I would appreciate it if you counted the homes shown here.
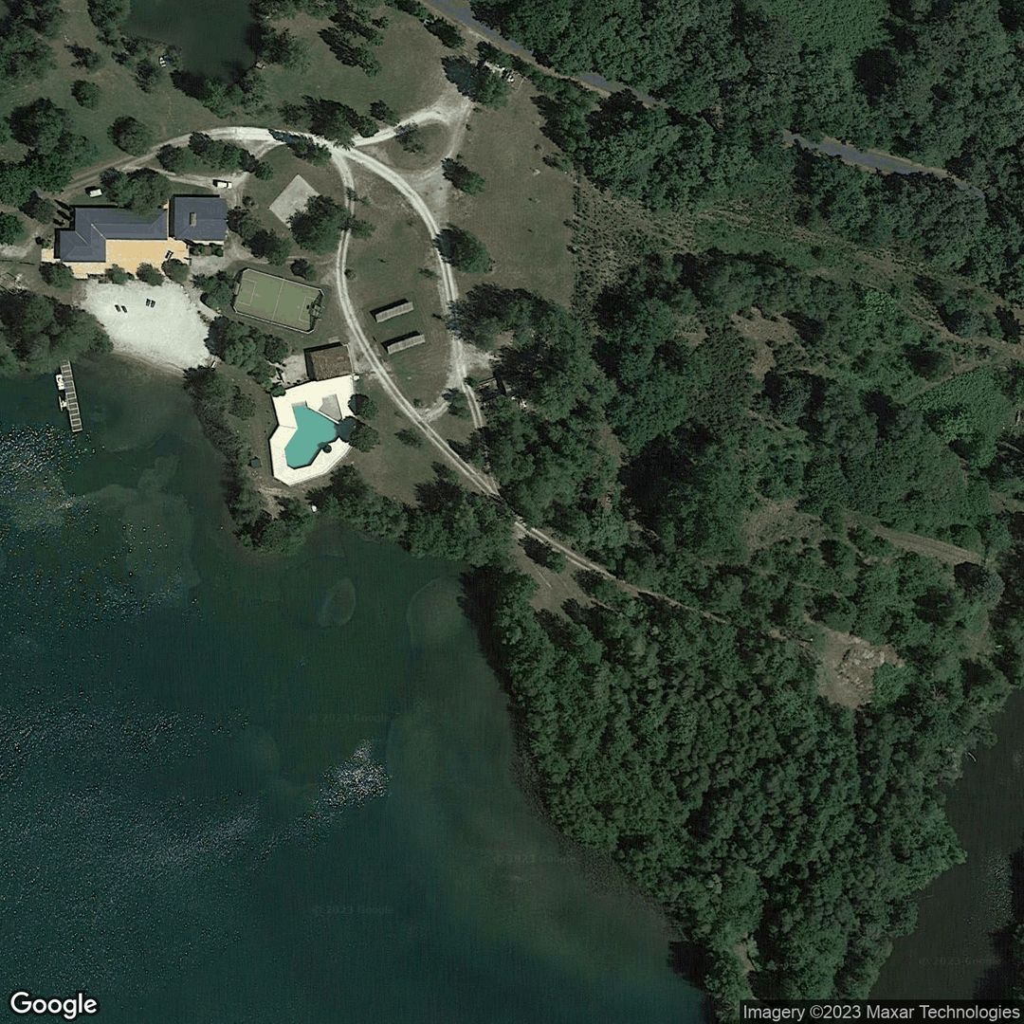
3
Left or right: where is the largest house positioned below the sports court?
left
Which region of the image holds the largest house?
top left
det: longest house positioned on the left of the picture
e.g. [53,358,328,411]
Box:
[60,208,167,262]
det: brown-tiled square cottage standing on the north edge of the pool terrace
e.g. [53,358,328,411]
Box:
[310,345,353,381]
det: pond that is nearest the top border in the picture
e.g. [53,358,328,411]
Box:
[124,0,254,91]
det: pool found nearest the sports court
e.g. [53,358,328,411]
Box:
[270,375,357,489]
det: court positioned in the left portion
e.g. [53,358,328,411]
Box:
[233,268,324,333]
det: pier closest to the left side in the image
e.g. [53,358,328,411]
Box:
[61,361,82,432]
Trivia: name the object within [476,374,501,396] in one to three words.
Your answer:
shed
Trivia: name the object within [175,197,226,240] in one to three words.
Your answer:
house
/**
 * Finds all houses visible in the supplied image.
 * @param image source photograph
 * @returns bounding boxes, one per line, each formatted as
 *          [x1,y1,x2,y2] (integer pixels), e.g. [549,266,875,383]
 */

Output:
[310,345,353,381]
[60,208,167,262]
[175,197,226,240]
